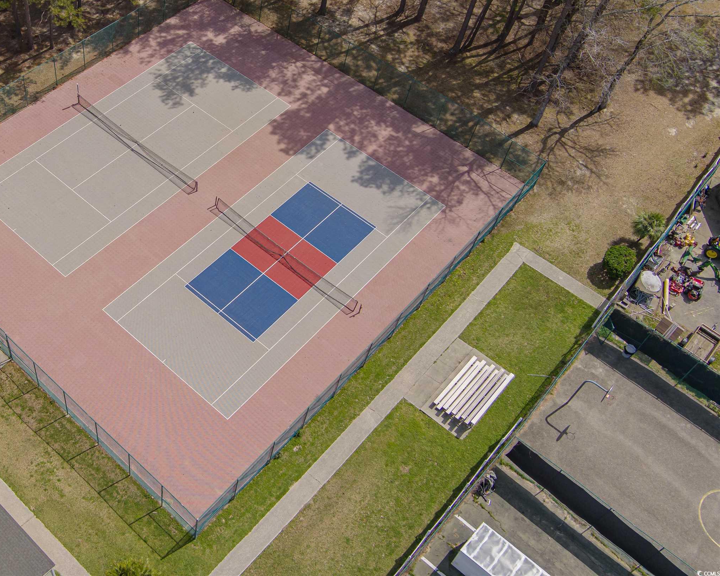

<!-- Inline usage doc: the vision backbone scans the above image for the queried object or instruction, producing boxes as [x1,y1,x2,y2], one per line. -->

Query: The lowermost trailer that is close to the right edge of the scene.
[682,324,720,366]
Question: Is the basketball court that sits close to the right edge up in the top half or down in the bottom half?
bottom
